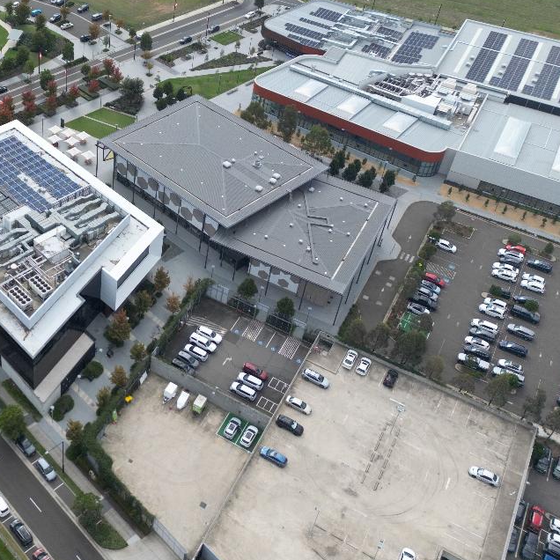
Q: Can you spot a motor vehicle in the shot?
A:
Yes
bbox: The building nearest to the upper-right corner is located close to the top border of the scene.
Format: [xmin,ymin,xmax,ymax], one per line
[253,0,560,217]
